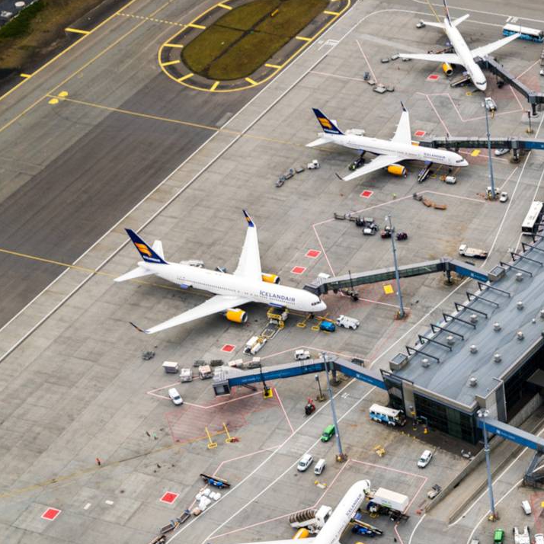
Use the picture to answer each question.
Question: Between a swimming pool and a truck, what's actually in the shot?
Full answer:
There is a truck in the scene.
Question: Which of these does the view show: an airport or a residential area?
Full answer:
What you see here is an airport.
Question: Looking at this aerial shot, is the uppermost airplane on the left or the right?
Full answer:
It is on the right.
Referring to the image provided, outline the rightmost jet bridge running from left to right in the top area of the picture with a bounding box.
[419,137,544,167]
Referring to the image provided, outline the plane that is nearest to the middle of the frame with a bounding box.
[118,217,319,336]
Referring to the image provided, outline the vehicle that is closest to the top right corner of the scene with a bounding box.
[505,24,544,43]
